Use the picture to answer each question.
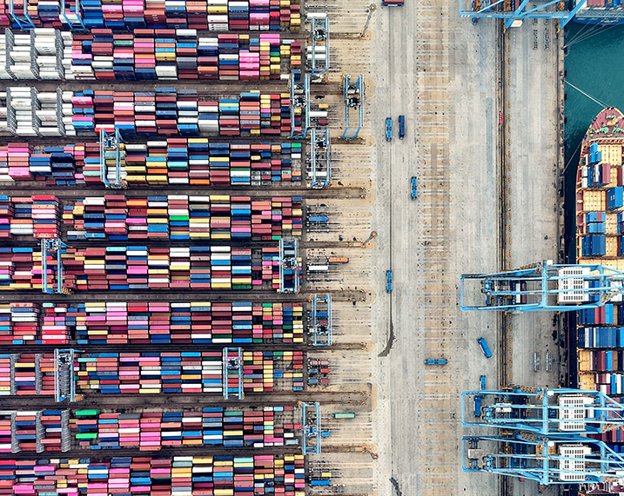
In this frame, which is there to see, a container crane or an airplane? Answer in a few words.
container crane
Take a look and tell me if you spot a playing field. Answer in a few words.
No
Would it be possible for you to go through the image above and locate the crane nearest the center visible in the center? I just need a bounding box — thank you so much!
[275,236,303,293]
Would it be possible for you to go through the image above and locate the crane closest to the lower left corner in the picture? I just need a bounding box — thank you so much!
[55,348,88,403]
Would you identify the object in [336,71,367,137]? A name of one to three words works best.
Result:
crane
